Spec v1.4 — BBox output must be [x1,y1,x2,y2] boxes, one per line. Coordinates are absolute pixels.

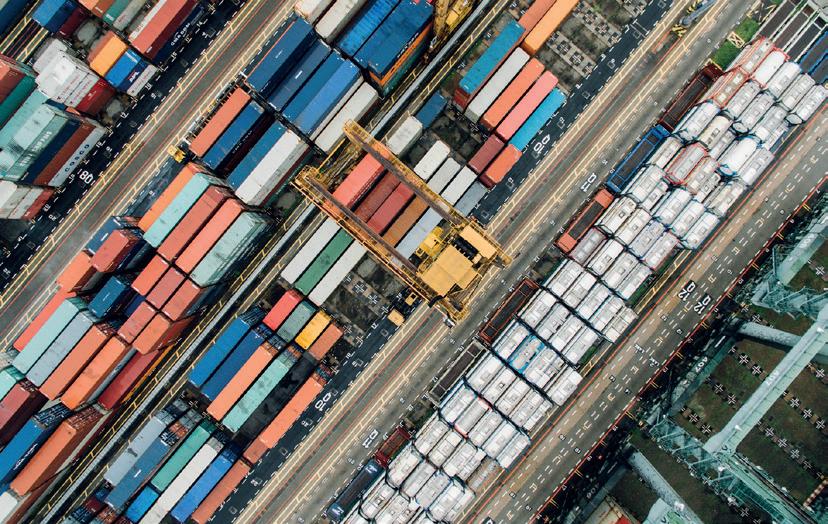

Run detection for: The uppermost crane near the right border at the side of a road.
[749,199,828,357]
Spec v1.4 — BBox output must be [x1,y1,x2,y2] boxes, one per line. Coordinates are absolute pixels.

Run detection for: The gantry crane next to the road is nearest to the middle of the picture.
[289,119,513,327]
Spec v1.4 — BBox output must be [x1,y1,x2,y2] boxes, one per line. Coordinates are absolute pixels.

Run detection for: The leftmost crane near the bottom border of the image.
[548,439,712,524]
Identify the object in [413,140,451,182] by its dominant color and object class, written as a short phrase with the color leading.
white shipping container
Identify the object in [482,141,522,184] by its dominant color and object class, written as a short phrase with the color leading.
red shipping container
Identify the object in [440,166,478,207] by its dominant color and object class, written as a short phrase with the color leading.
white shipping container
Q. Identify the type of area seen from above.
industrial area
